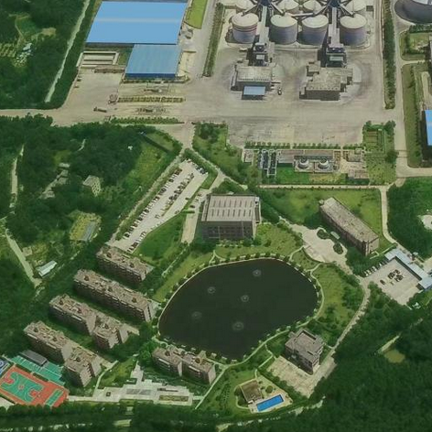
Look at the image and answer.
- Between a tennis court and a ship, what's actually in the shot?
tennis court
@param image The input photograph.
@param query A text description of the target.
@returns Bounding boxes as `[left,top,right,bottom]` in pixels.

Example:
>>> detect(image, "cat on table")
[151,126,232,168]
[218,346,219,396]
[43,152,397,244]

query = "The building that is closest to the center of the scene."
[203,194,260,239]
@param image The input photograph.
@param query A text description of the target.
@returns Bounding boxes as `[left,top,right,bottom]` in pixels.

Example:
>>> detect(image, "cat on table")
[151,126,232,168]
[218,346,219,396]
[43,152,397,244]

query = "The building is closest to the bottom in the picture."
[239,378,264,406]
